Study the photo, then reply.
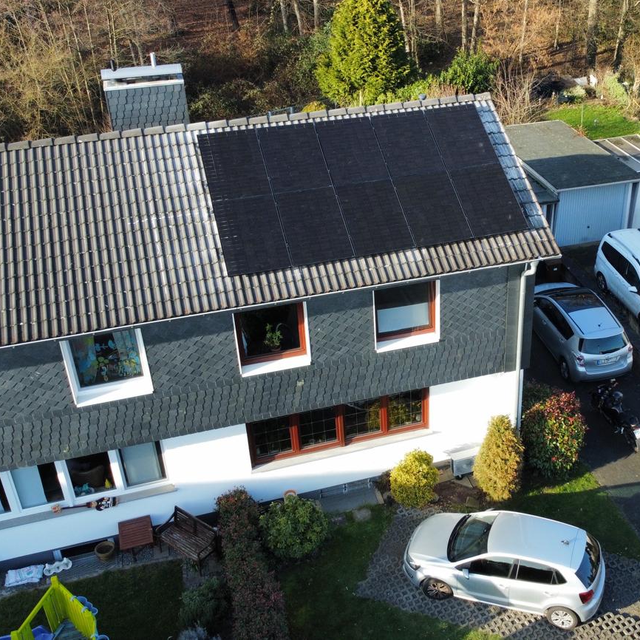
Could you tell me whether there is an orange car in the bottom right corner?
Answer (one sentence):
No, in the bottom right corner there is no orange car.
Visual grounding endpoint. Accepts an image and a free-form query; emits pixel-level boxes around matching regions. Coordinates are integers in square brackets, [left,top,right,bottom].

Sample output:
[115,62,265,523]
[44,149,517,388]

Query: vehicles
[594,229,640,333]
[533,282,633,380]
[403,503,610,630]
[589,375,640,448]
